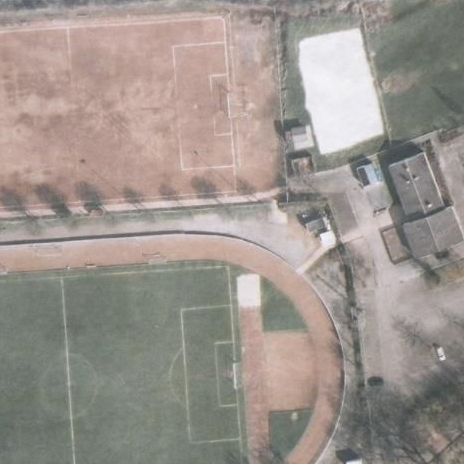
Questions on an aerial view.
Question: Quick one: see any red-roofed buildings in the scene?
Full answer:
No, I can't see a single red-roofed building in this photo.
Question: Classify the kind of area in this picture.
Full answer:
The area seen from above is a sports ground.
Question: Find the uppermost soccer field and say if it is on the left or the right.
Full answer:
The uppermost soccer field sits on the left side.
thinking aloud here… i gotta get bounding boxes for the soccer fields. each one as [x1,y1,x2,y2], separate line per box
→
[0,260,319,464]
[0,13,242,212]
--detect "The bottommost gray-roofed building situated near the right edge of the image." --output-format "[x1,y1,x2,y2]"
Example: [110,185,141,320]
[402,207,464,259]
